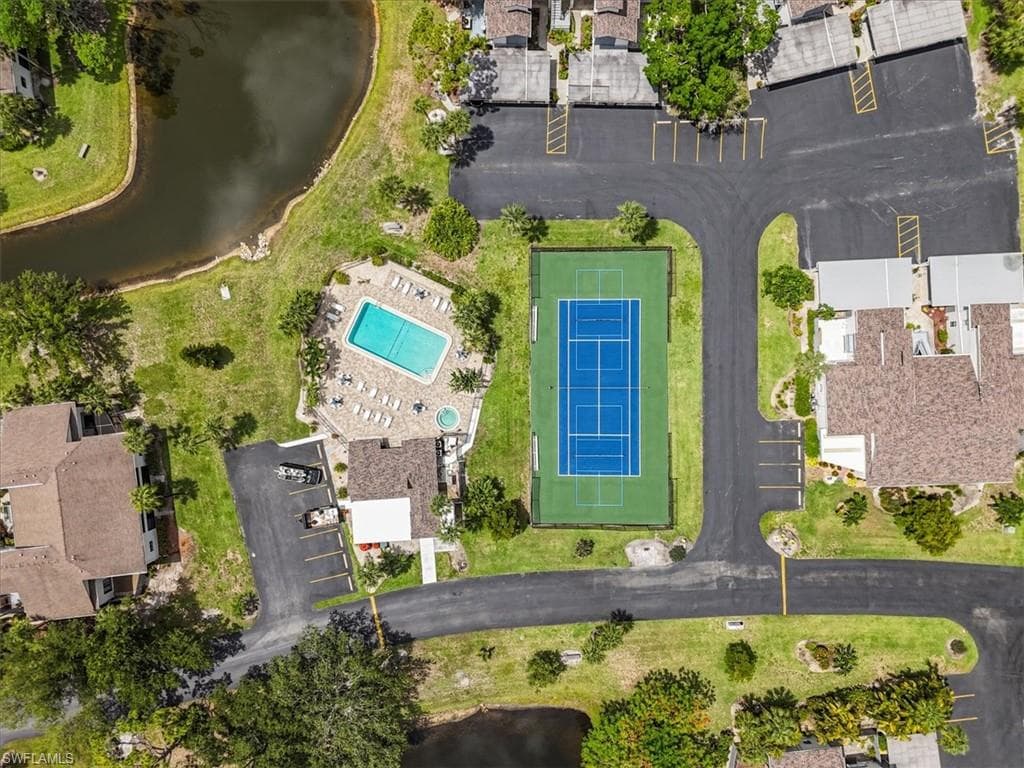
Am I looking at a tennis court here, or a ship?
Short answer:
tennis court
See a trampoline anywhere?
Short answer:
No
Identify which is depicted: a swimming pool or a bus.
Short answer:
swimming pool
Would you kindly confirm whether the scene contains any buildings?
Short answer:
Yes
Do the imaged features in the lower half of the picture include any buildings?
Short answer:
Yes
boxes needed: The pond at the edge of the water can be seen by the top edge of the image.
[0,0,376,292]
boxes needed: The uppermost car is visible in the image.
[276,463,318,484]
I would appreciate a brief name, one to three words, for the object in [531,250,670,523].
tennis court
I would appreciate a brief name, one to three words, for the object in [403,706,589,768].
pond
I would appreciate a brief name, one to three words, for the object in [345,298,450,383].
swimming pool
